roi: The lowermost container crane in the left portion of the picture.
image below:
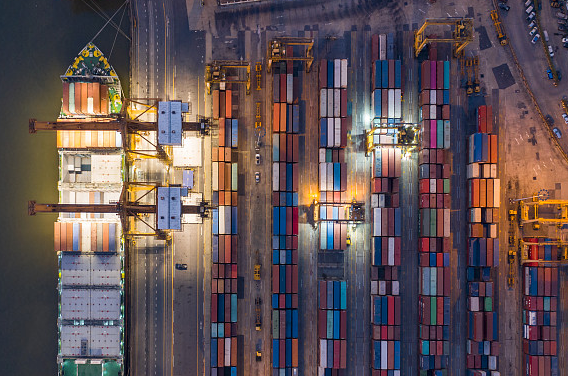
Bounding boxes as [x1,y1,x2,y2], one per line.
[27,182,210,239]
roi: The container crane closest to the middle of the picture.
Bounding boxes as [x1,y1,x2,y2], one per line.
[314,196,370,231]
